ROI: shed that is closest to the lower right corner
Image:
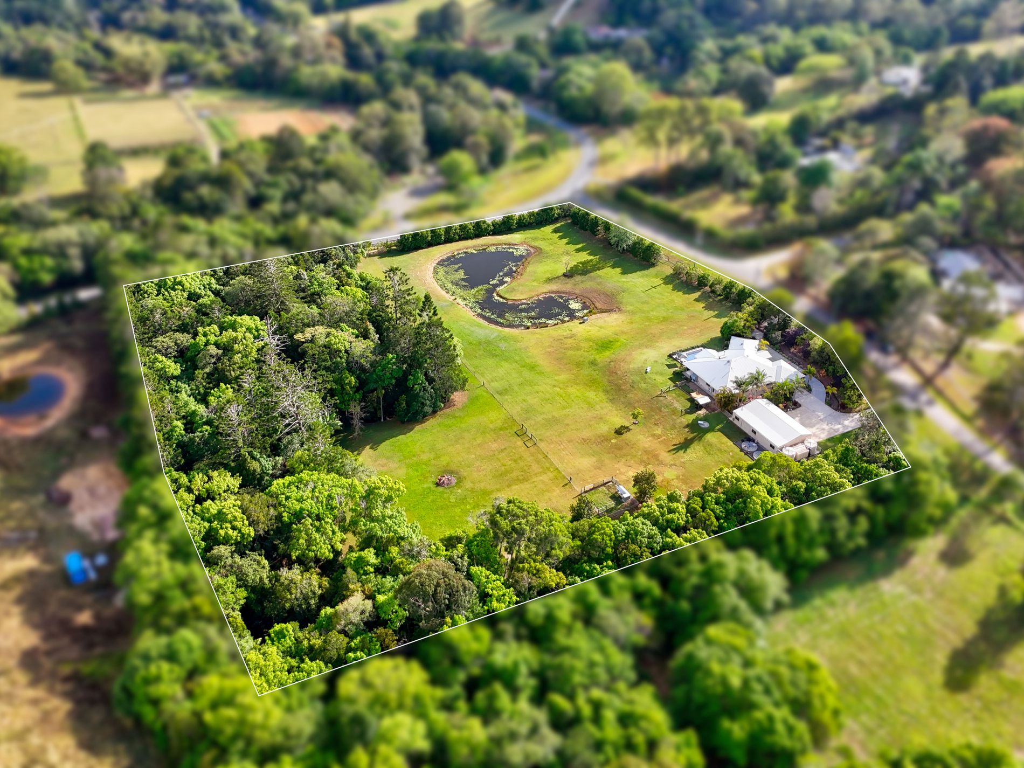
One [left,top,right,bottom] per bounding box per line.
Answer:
[730,400,812,457]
